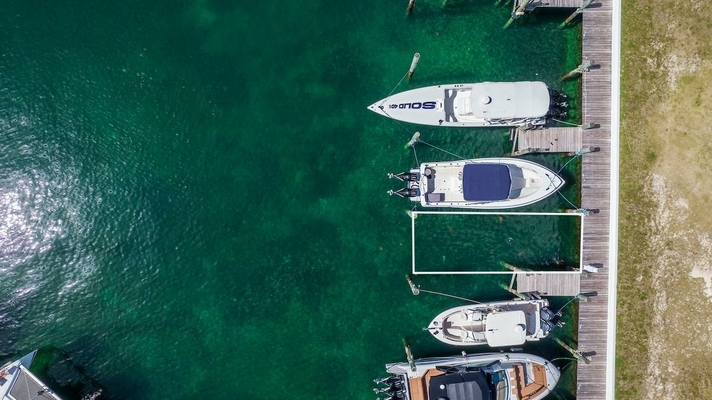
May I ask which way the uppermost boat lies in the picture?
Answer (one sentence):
Seen from above, the uppermost boat lies horizontally.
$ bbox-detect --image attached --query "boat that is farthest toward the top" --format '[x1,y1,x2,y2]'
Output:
[368,81,565,128]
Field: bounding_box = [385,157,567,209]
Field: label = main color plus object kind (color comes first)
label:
white boat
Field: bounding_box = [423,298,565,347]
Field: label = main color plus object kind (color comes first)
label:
white boat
